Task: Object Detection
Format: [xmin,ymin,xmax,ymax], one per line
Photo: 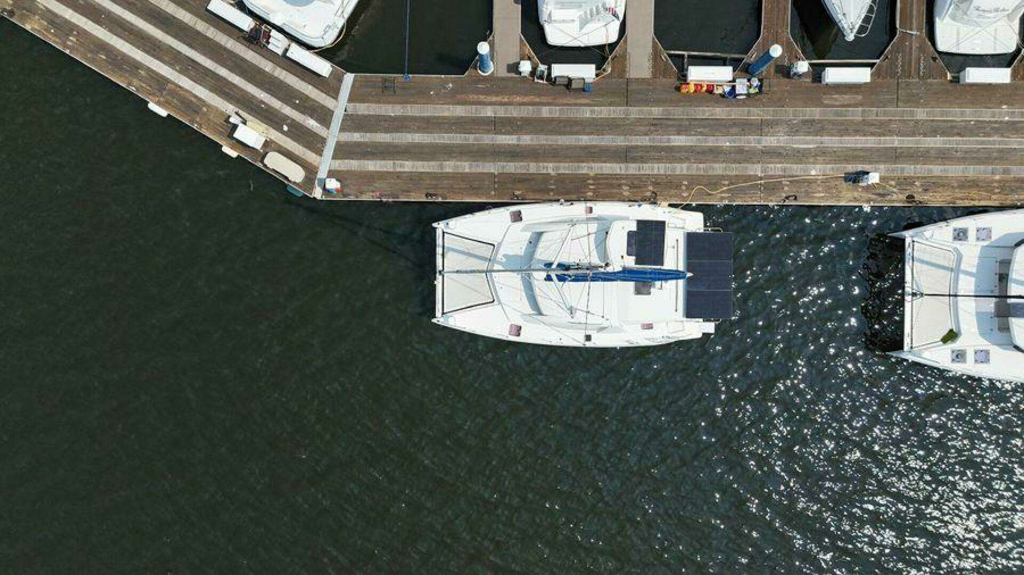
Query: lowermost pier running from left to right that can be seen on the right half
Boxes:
[324,73,1024,207]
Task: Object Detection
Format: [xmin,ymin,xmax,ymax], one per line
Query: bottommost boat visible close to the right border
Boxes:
[891,209,1024,381]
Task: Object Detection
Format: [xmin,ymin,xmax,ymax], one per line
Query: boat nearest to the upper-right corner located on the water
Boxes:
[921,0,1021,55]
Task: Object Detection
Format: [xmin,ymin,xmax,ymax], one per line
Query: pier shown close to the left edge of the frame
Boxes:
[0,0,344,197]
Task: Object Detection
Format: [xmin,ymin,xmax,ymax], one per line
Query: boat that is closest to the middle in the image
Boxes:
[432,201,734,347]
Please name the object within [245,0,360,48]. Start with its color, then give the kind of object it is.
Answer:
white boat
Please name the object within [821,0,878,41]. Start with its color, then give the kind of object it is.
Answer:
white boat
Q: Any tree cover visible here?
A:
No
